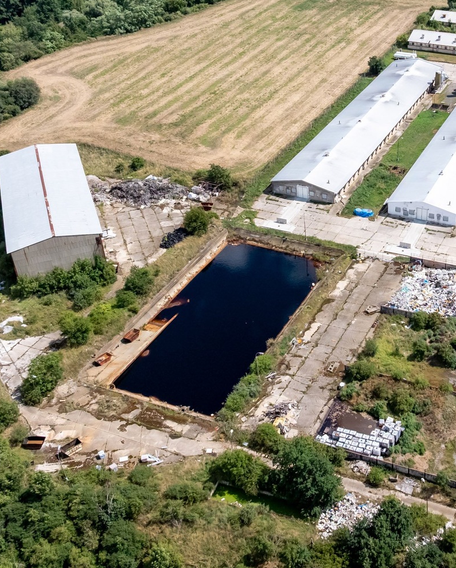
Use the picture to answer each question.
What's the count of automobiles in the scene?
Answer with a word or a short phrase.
0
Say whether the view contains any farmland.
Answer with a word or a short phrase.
Yes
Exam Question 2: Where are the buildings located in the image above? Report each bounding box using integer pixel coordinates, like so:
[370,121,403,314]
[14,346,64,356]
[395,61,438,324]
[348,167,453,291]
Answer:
[430,10,456,28]
[387,110,456,225]
[0,144,109,290]
[271,59,444,202]
[409,29,456,54]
